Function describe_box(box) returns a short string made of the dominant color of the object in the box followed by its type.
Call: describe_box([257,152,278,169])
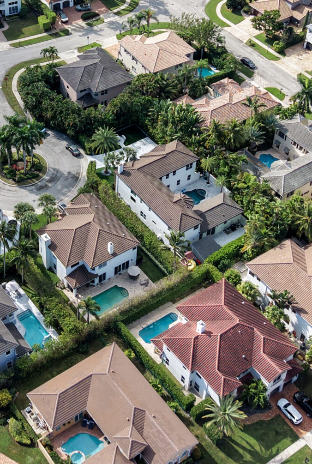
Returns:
blue swimming pool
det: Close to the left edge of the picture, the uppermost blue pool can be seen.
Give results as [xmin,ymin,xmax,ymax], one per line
[14,307,51,349]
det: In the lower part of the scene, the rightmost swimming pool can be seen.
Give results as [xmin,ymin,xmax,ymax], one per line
[138,312,179,344]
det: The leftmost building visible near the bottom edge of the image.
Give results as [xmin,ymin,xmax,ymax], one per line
[28,345,213,464]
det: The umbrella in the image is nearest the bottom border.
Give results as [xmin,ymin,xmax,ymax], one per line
[125,265,142,278]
